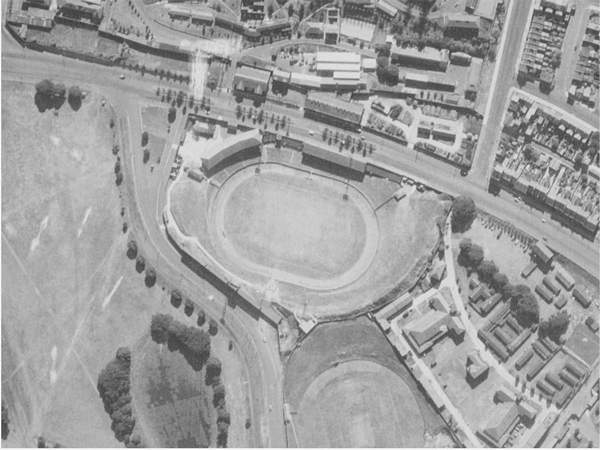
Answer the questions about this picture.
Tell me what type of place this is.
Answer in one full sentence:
The area seen from above is a sports ground.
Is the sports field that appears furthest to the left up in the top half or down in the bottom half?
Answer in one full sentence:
You can find the sports field that appears furthest to the left in the bottom half.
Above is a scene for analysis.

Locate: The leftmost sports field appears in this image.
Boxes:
[134,338,216,450]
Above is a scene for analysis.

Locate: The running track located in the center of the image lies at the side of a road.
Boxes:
[209,165,379,290]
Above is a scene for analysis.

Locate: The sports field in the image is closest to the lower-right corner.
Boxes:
[285,316,463,450]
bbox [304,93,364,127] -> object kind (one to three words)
building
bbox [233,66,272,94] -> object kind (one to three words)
building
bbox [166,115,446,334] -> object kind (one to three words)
stadium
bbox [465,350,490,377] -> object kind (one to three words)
house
